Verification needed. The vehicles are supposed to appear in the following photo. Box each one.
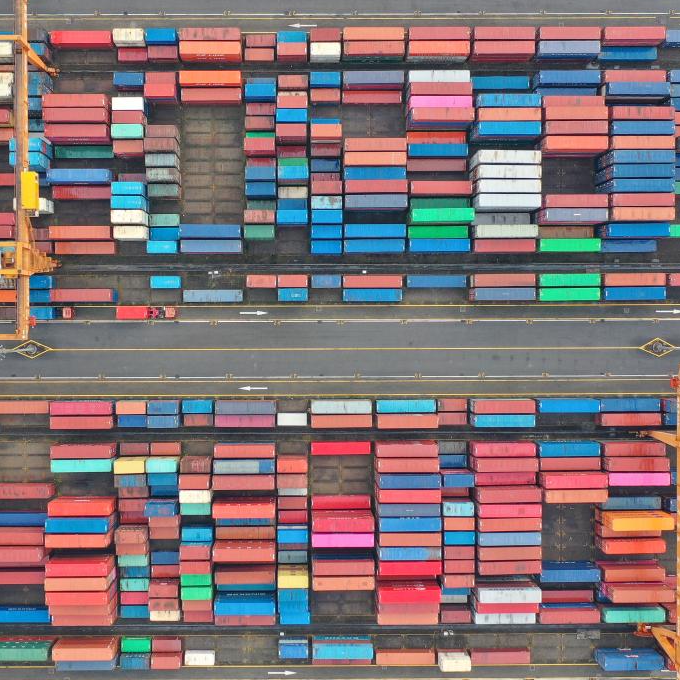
[149,307,179,321]
[56,307,79,321]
